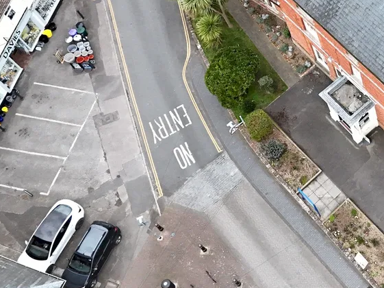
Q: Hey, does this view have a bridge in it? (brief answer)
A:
No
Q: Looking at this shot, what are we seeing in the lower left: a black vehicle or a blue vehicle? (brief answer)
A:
black vehicle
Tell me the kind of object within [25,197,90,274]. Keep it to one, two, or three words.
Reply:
car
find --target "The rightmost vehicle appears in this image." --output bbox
[65,217,125,288]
